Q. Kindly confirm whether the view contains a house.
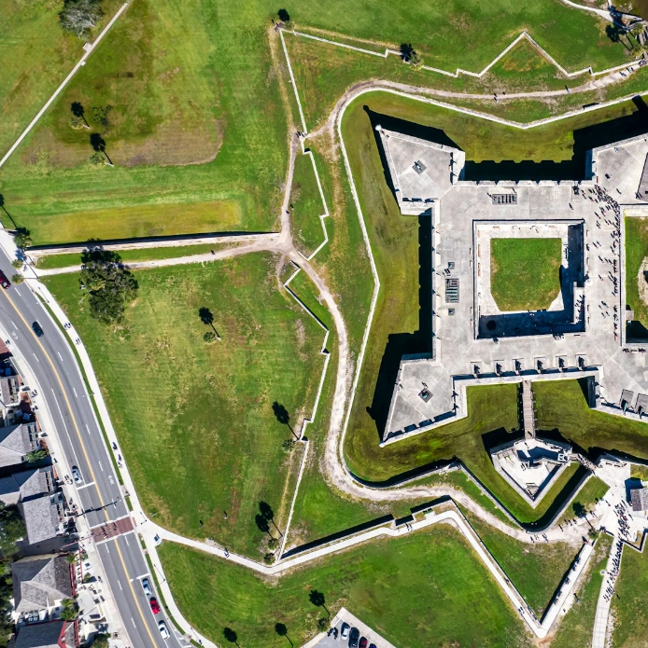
Yes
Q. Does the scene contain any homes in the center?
No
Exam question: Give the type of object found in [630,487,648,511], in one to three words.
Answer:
shed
